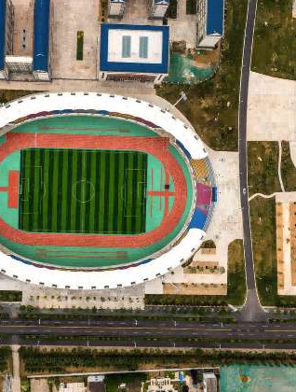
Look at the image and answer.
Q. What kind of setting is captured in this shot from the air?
sports ground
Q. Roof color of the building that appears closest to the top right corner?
blue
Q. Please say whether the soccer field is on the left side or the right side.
left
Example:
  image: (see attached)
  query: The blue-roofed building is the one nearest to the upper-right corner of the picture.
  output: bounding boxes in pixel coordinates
[199,0,225,48]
